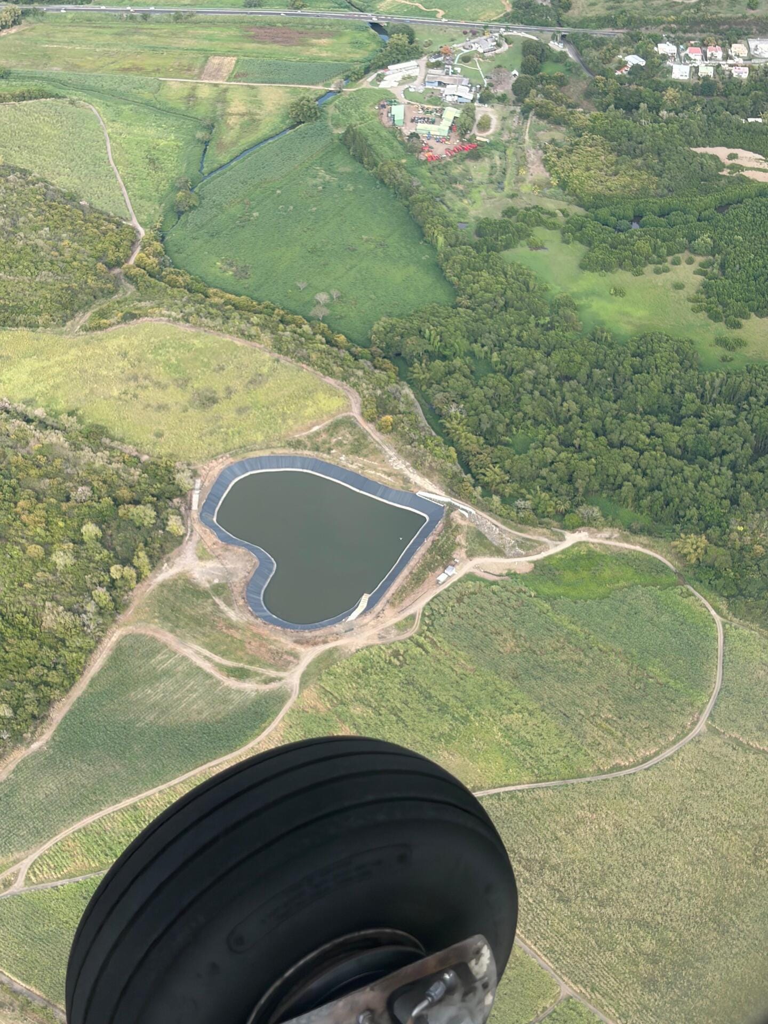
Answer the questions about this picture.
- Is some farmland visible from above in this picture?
Yes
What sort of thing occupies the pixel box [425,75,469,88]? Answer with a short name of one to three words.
building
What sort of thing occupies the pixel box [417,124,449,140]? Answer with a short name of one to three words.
shed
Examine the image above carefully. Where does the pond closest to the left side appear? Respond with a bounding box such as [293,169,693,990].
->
[198,455,447,631]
